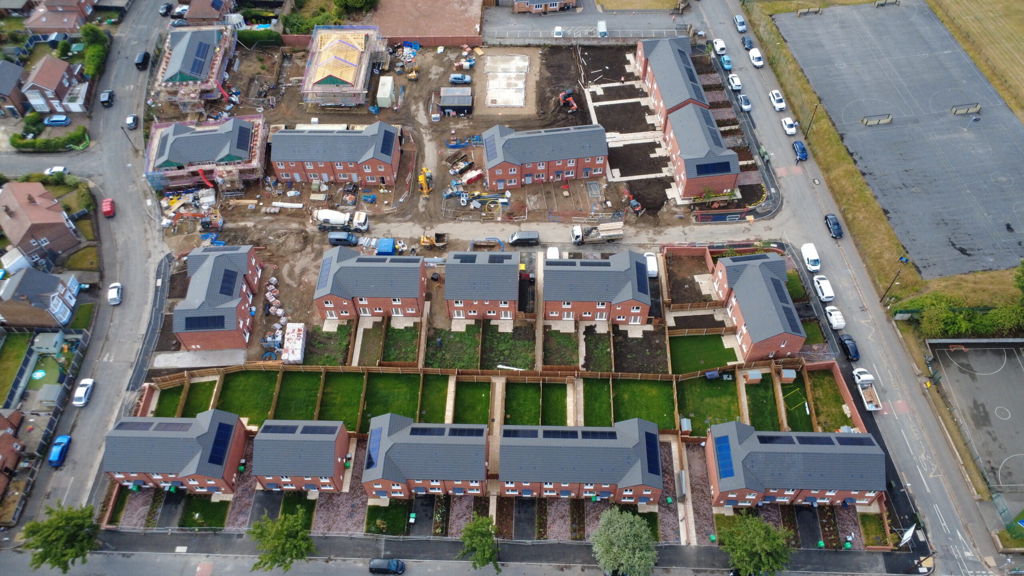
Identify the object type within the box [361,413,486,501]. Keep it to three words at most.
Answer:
house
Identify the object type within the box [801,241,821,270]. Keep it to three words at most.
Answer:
vehicle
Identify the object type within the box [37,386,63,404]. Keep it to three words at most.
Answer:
shed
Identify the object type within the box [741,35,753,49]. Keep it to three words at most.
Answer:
vehicle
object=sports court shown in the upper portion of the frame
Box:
[770,0,1024,279]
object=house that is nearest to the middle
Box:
[445,252,519,318]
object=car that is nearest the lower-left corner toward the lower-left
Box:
[47,436,72,468]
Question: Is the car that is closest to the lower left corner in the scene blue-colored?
Yes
